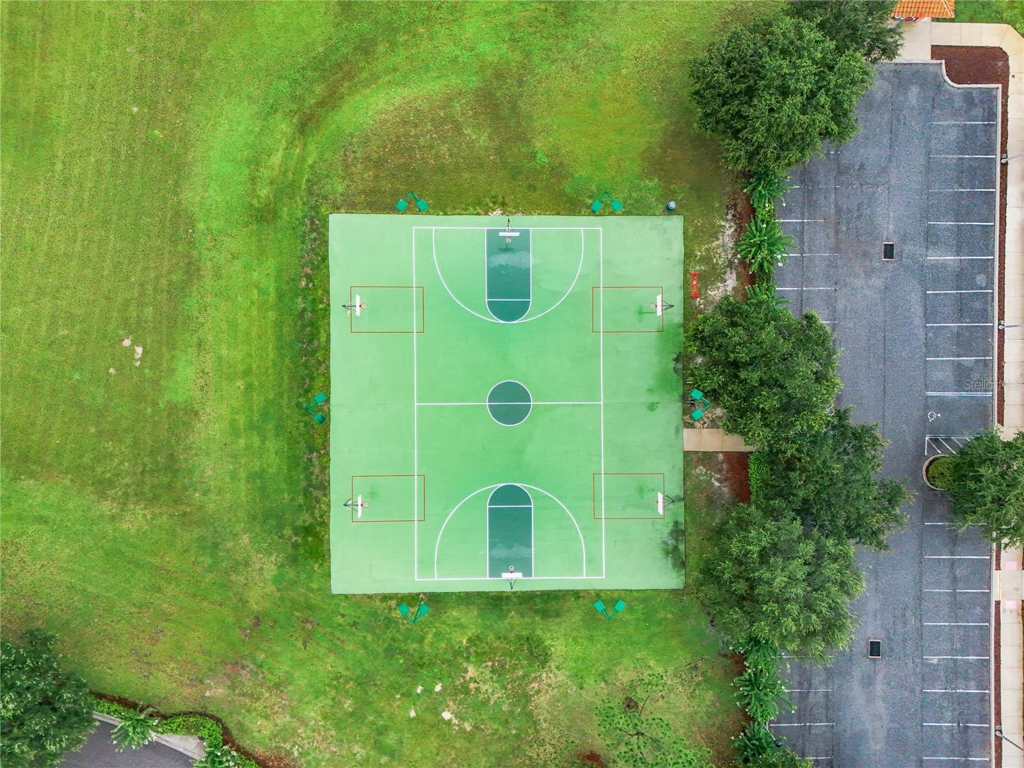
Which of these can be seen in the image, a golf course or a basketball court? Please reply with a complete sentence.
The image shows a basketball court.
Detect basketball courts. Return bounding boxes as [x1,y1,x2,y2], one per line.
[328,213,685,595]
